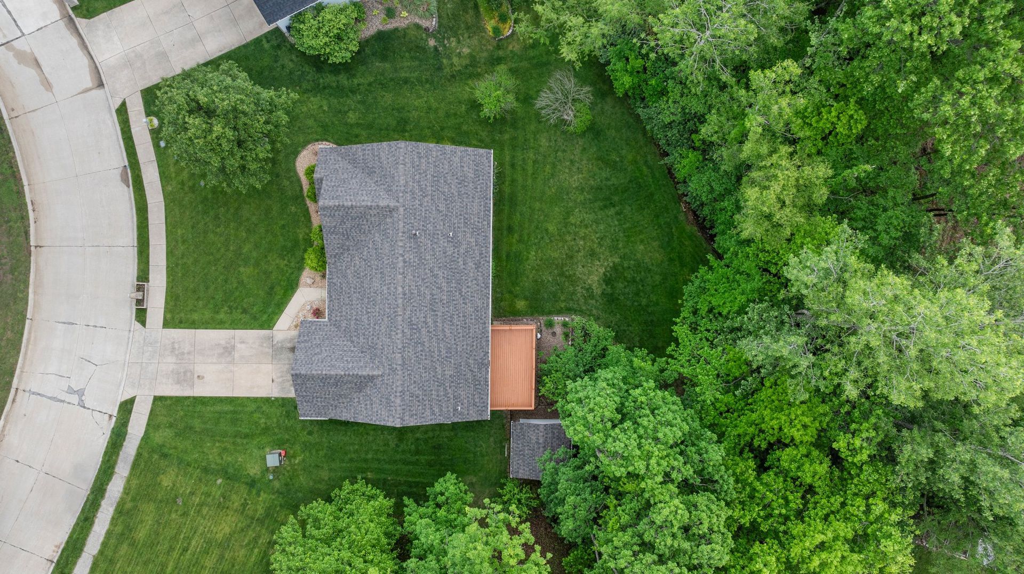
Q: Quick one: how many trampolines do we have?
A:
0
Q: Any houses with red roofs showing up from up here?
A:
No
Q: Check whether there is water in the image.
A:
No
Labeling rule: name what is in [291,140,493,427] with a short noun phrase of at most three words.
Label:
house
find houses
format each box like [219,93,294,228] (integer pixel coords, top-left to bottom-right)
[291,140,493,427]
[255,0,349,37]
